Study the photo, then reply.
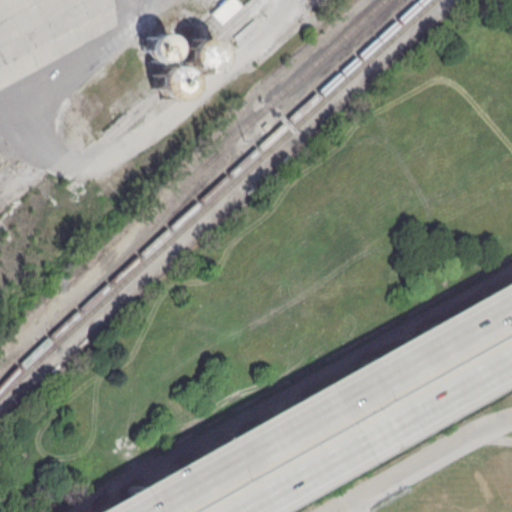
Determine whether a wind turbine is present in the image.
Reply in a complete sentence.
No, I find no wind turbine anywhere in the image.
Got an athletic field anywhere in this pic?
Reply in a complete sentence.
No, no athletic field is visible in the view.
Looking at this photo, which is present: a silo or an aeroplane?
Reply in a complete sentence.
Visible in the photo is a silo.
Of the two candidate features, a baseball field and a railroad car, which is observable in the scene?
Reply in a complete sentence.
I can see a railroad car in this picture.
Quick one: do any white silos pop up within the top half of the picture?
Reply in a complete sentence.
Yes, I can see a white silo within the top half of the picture.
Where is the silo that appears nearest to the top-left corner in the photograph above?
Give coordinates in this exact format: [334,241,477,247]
[140,33,188,68]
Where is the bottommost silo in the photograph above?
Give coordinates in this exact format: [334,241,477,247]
[152,66,204,102]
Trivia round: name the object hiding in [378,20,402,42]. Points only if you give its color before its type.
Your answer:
white rail car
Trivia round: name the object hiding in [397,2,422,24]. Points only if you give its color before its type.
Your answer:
white rail car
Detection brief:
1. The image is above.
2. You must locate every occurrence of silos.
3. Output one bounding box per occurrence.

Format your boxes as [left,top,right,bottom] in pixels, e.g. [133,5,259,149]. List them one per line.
[183,38,234,74]
[140,33,188,68]
[152,66,204,102]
